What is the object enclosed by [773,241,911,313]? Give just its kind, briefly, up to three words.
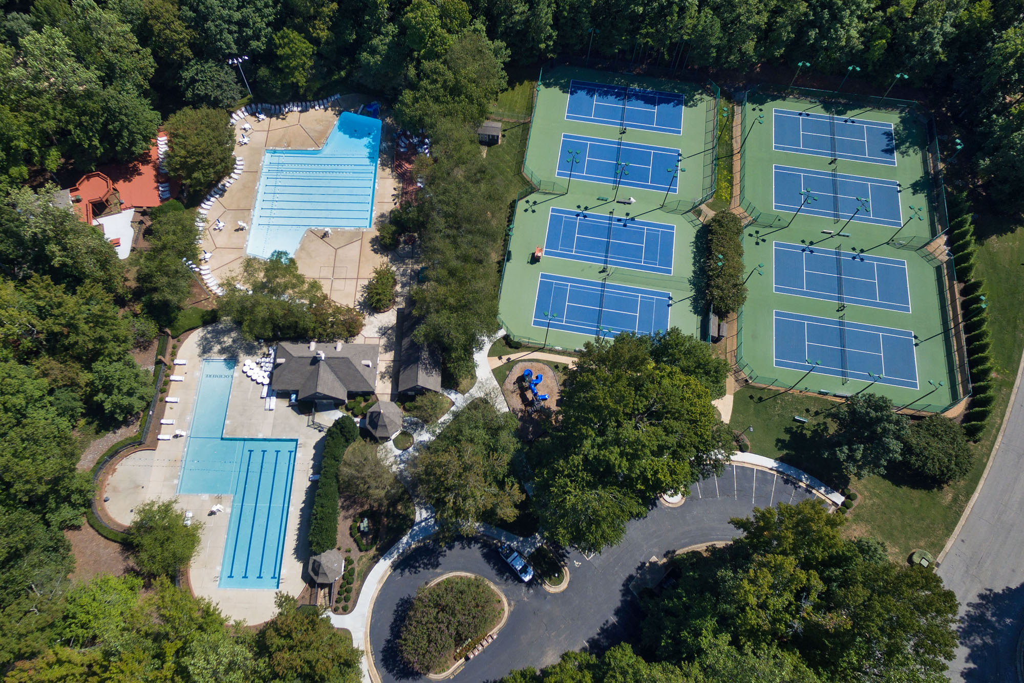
tennis court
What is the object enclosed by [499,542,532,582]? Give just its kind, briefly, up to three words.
truck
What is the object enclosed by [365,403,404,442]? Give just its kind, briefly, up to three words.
gazebo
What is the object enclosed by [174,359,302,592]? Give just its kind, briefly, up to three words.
swimming pool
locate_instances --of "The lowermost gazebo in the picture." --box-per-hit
[307,547,347,587]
